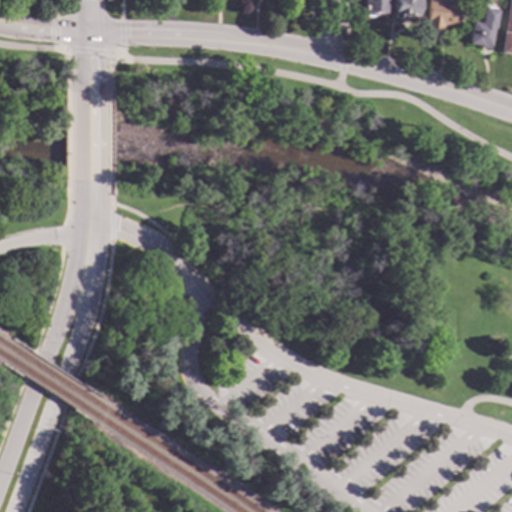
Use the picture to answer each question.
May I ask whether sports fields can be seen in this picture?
No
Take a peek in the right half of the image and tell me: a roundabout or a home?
home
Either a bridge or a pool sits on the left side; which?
bridge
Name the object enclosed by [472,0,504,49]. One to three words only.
house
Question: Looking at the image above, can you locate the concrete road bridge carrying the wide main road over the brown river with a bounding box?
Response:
[67,102,118,194]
